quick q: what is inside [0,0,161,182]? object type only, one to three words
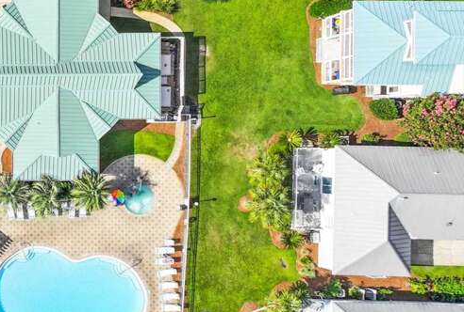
building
